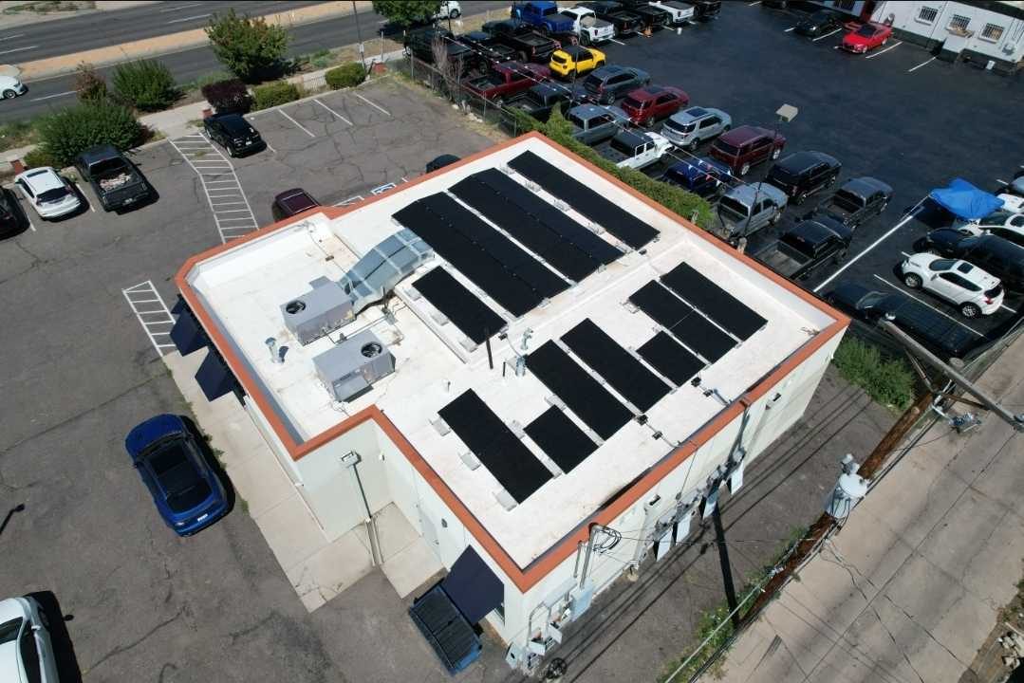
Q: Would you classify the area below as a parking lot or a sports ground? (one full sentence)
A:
This looks like a parking lot.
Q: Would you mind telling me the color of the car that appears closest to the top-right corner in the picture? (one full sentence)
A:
The car that appears closest to the top-right corner is red.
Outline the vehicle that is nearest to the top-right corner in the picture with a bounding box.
[834,26,891,57]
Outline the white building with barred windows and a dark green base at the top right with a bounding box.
[849,0,1024,79]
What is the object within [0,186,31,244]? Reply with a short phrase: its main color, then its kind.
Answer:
black car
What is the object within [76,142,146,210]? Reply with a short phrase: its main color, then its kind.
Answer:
black truck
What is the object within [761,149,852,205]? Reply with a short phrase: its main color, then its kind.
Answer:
black car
